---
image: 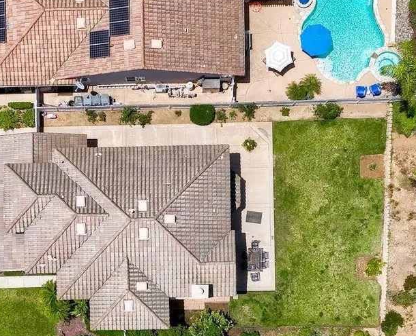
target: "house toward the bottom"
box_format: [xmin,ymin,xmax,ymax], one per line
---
[0,132,241,332]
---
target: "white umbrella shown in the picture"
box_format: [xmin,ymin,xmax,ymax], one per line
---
[265,43,291,73]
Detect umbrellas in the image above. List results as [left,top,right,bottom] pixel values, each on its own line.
[265,43,291,73]
[300,26,332,59]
